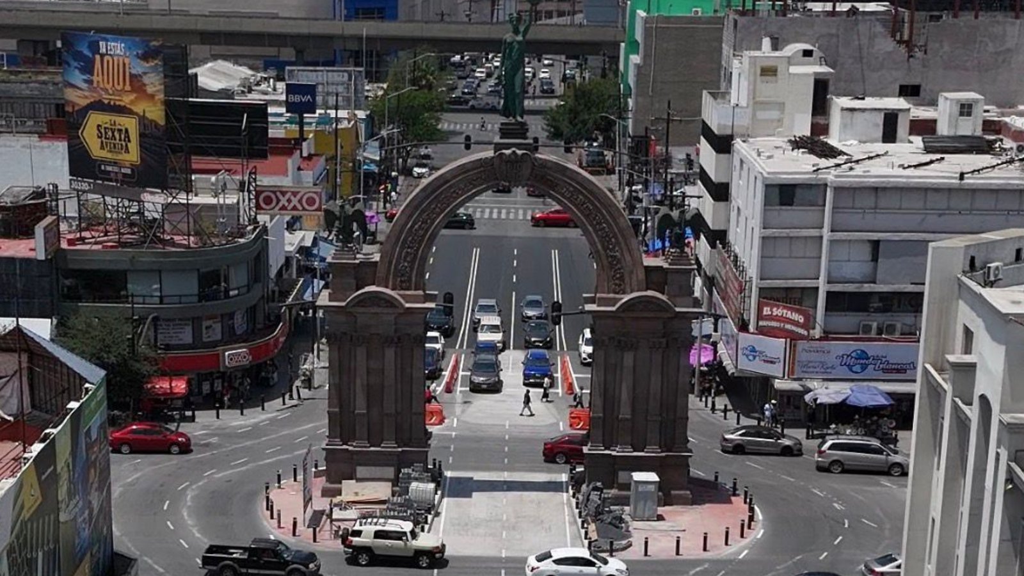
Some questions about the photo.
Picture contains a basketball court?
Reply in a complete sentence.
No, no basketball court is visible in the view.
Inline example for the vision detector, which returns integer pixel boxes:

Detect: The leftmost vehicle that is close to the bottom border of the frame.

[202,527,325,576]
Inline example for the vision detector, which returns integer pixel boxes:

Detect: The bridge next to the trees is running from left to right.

[0,5,618,82]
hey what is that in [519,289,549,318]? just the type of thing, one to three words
car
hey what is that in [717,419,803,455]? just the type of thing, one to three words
car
